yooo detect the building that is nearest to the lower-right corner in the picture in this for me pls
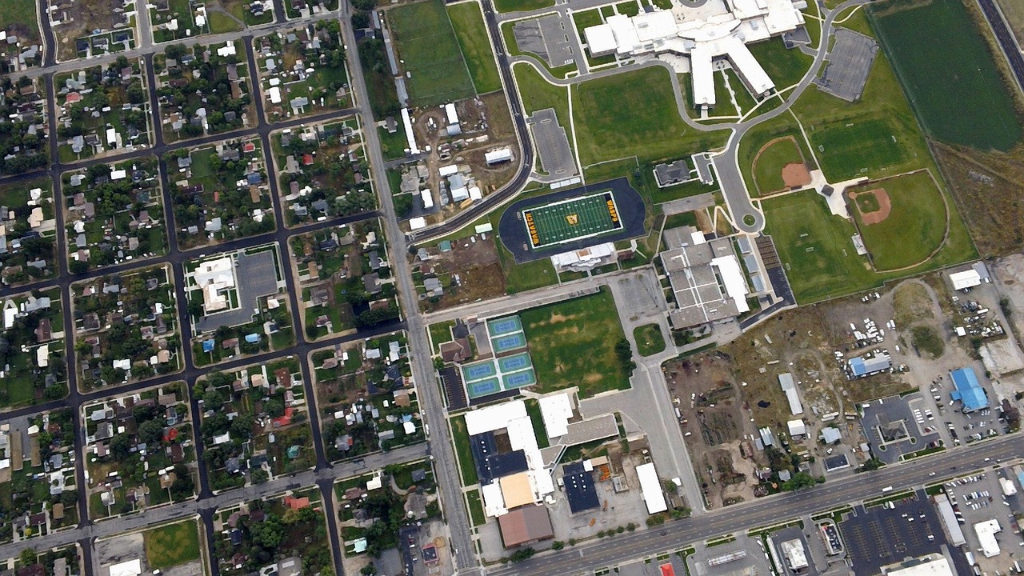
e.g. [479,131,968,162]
[972,519,1001,558]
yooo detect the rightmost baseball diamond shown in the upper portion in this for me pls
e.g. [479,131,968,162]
[842,168,950,273]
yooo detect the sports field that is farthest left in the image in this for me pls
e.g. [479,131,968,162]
[499,177,645,264]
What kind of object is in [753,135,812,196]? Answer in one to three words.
baseball field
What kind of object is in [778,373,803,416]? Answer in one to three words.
shed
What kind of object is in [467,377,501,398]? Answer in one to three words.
tennis court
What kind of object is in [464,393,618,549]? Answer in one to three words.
building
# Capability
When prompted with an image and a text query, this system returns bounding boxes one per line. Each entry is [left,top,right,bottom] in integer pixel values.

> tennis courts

[503,369,537,389]
[463,360,496,381]
[492,332,527,352]
[467,377,501,398]
[499,352,533,373]
[488,315,522,337]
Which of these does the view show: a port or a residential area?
residential area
